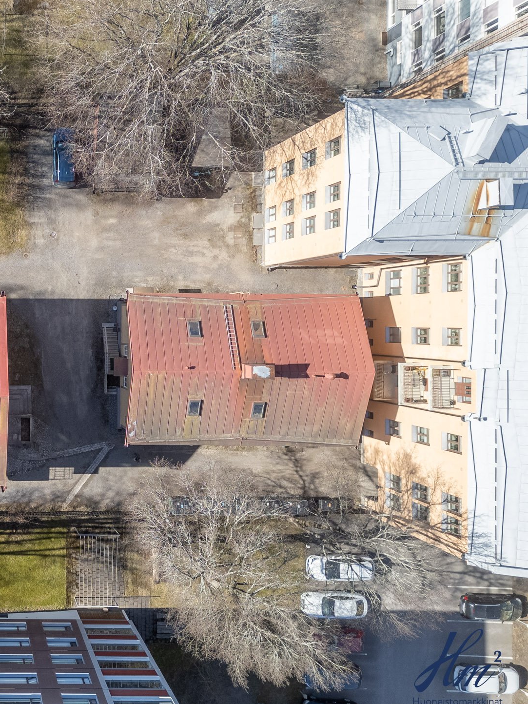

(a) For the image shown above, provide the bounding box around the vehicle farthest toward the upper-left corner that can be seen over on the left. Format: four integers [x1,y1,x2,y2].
[49,126,78,189]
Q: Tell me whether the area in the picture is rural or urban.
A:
urban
